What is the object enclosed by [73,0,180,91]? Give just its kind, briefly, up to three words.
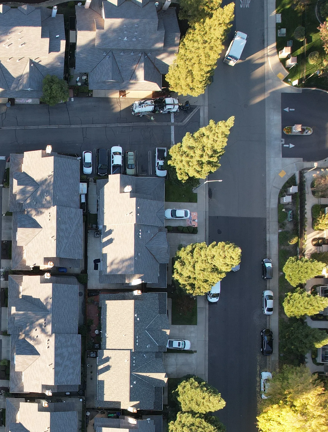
house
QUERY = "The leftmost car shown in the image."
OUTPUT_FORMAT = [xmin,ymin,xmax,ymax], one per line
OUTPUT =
[82,149,94,176]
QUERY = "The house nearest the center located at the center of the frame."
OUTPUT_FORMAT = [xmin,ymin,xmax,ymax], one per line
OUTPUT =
[94,174,171,288]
